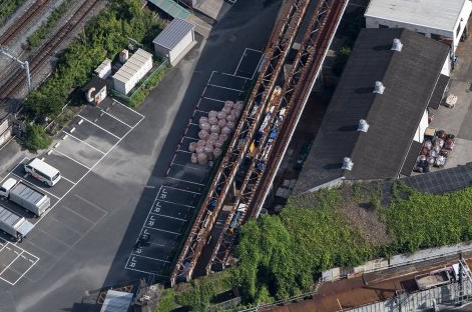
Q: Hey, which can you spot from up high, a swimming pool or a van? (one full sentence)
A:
The one in the frame is a van.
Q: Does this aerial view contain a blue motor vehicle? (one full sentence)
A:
No, there isn't any blue motor vehicle down there.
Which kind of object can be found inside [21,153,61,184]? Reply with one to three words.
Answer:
van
